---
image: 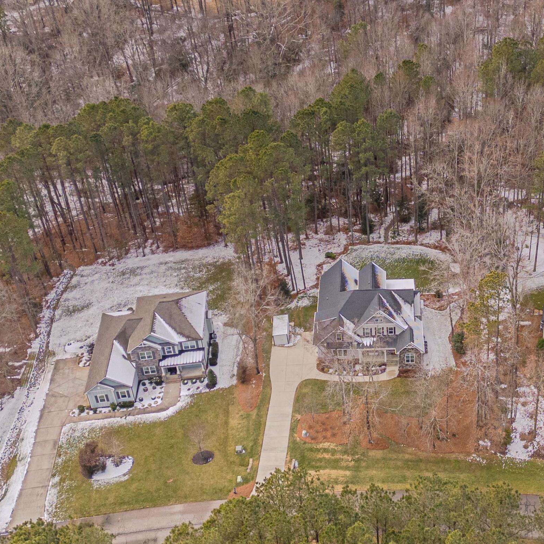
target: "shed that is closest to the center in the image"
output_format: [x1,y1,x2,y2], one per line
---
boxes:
[271,310,288,345]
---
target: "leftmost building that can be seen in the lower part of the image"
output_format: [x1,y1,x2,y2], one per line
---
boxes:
[84,290,214,408]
